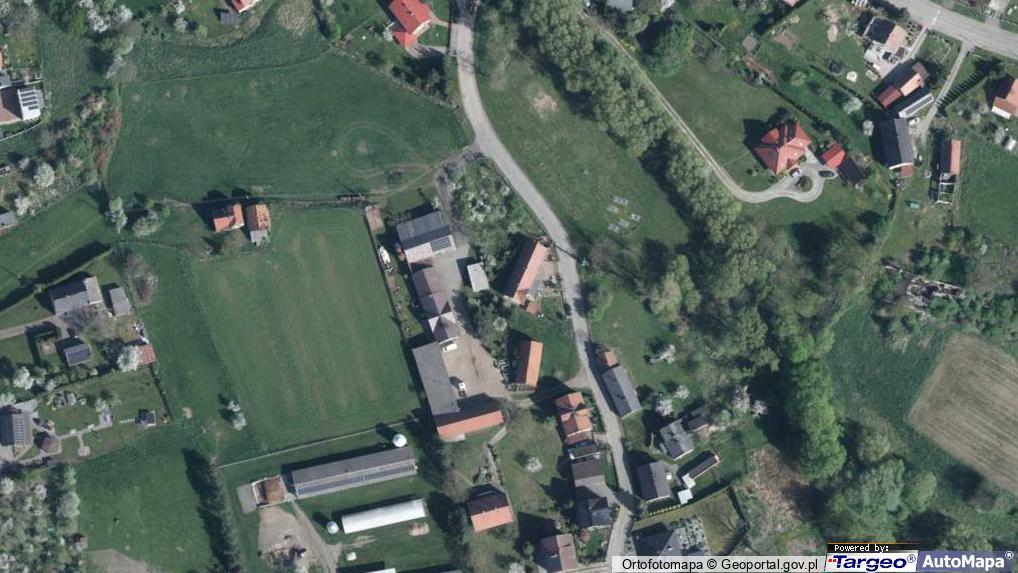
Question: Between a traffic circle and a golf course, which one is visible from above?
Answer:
traffic circle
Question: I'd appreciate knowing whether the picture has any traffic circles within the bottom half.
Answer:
No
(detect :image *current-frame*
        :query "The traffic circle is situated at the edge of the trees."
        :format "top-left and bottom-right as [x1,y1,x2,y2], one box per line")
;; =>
[738,150,838,203]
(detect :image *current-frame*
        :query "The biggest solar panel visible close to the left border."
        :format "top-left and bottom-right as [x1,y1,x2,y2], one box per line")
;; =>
[14,415,27,444]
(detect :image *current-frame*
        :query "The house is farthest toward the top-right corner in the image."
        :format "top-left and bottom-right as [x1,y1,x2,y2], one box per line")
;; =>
[989,74,1018,118]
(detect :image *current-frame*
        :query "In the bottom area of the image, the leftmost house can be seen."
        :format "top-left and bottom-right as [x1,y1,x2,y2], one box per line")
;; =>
[0,412,32,447]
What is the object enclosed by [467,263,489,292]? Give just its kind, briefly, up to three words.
shed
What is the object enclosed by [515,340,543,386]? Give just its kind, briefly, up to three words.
barn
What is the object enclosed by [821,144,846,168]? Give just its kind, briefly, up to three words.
building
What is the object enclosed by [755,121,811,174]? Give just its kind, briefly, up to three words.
house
